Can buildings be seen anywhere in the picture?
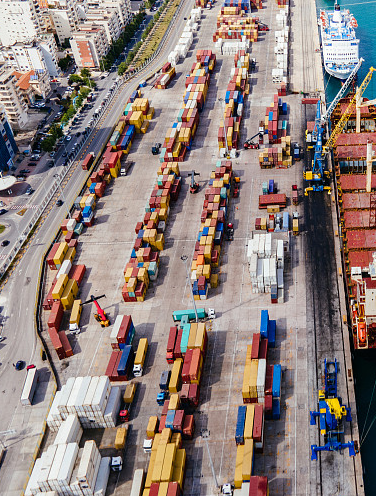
Yes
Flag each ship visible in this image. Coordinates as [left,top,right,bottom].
[331,87,376,359]
[320,0,362,91]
